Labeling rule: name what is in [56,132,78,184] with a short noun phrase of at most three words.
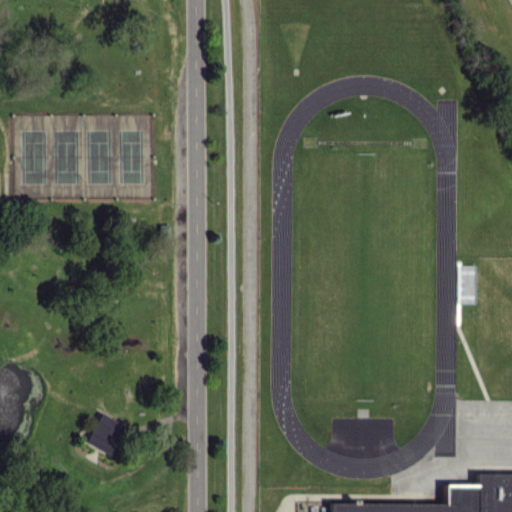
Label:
tennis court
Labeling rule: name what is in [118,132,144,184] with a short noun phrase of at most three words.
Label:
tennis court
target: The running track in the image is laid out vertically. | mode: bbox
[270,76,458,479]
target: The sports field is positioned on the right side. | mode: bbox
[310,154,418,402]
